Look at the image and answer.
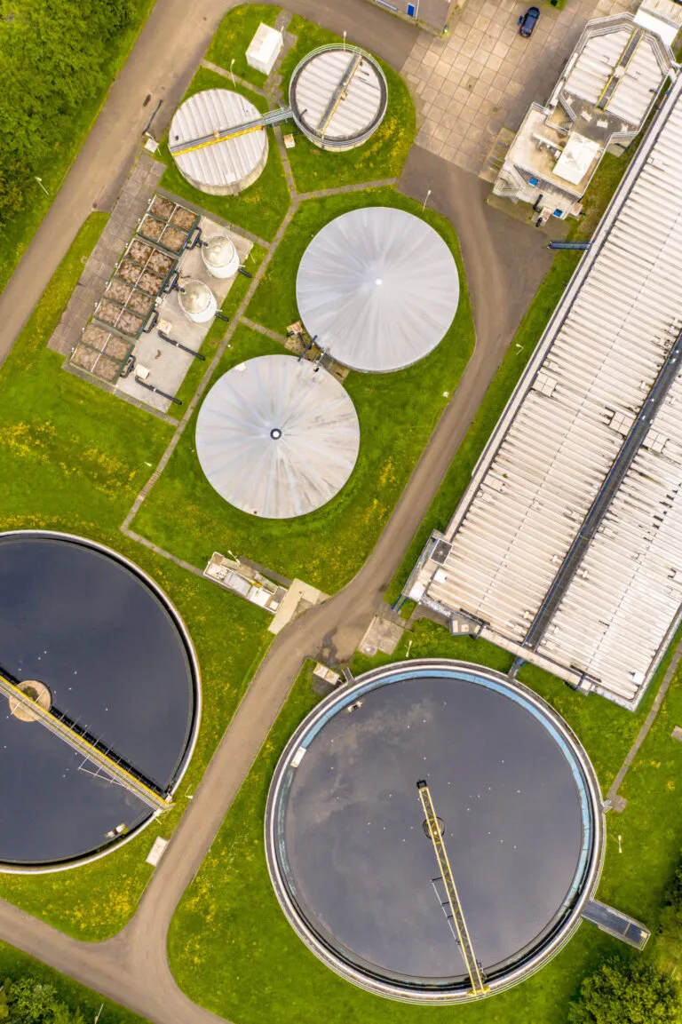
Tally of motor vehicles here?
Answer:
one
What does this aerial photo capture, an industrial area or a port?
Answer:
industrial area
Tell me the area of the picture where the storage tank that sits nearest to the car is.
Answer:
top right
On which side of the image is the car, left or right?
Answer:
right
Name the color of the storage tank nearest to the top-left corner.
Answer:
white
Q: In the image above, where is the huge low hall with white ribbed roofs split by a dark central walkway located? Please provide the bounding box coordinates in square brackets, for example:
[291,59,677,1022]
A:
[401,58,682,714]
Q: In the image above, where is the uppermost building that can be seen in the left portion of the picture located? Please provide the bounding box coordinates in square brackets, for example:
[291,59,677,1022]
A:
[246,23,285,77]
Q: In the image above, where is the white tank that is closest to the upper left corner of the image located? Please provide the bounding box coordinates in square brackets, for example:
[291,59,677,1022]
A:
[166,88,268,195]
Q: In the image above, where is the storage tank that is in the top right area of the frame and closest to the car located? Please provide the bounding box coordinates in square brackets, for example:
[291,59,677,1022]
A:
[547,12,674,151]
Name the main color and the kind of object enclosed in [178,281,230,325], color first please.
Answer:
white storage tank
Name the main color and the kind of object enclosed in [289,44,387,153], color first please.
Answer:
white storage tank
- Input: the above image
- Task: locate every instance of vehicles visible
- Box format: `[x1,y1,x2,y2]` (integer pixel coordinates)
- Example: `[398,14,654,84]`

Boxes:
[517,6,539,40]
